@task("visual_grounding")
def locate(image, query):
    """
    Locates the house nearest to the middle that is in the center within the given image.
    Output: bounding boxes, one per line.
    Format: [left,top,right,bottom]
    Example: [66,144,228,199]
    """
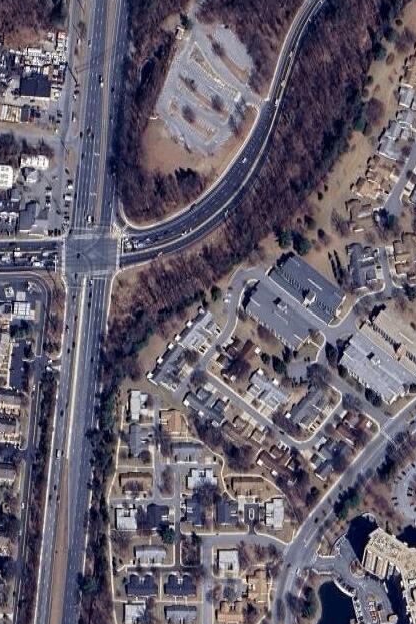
[177,308,215,350]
